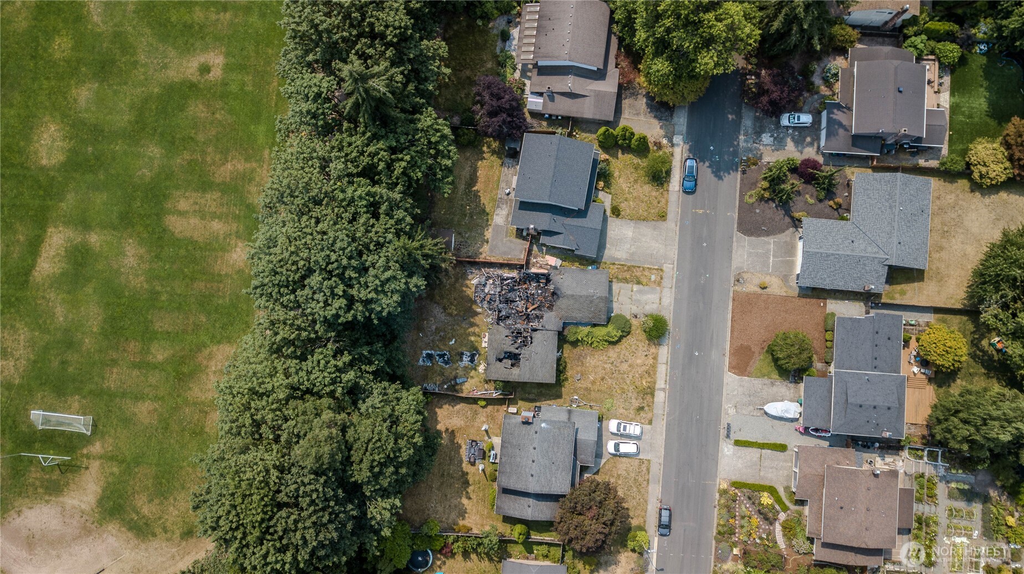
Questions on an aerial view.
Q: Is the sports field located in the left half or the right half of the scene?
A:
left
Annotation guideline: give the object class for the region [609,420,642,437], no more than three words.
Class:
car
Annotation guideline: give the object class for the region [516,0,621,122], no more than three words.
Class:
house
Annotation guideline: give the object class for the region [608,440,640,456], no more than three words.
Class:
car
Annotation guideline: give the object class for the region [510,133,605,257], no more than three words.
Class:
house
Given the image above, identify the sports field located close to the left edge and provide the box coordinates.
[0,0,325,574]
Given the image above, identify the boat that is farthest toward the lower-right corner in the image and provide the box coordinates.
[805,428,828,441]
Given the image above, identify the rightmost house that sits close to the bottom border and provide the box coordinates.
[787,444,915,566]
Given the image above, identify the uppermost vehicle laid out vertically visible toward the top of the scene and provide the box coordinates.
[681,158,697,192]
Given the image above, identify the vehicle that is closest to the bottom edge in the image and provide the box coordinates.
[657,505,673,535]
